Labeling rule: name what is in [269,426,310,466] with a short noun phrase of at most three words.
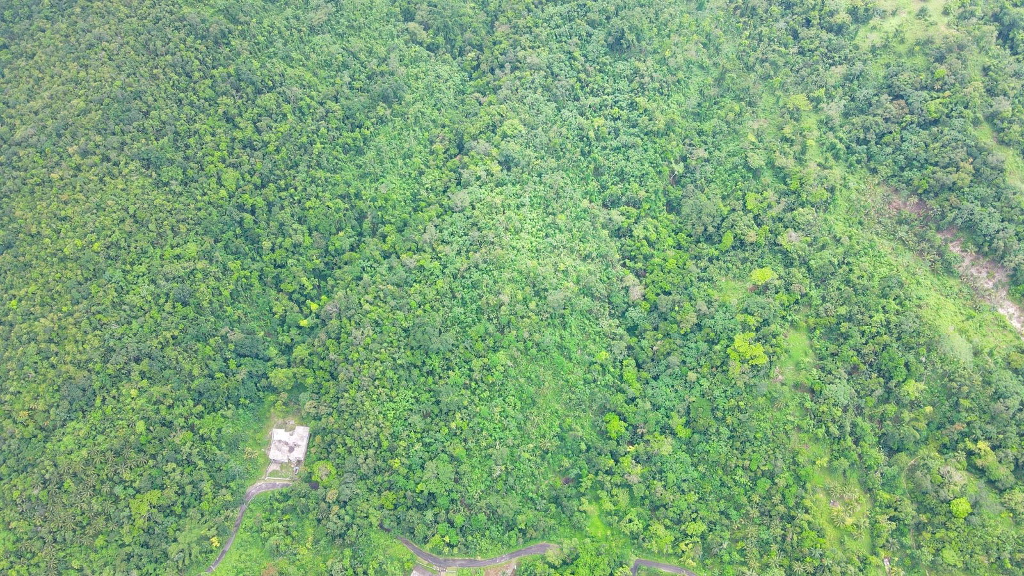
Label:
house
